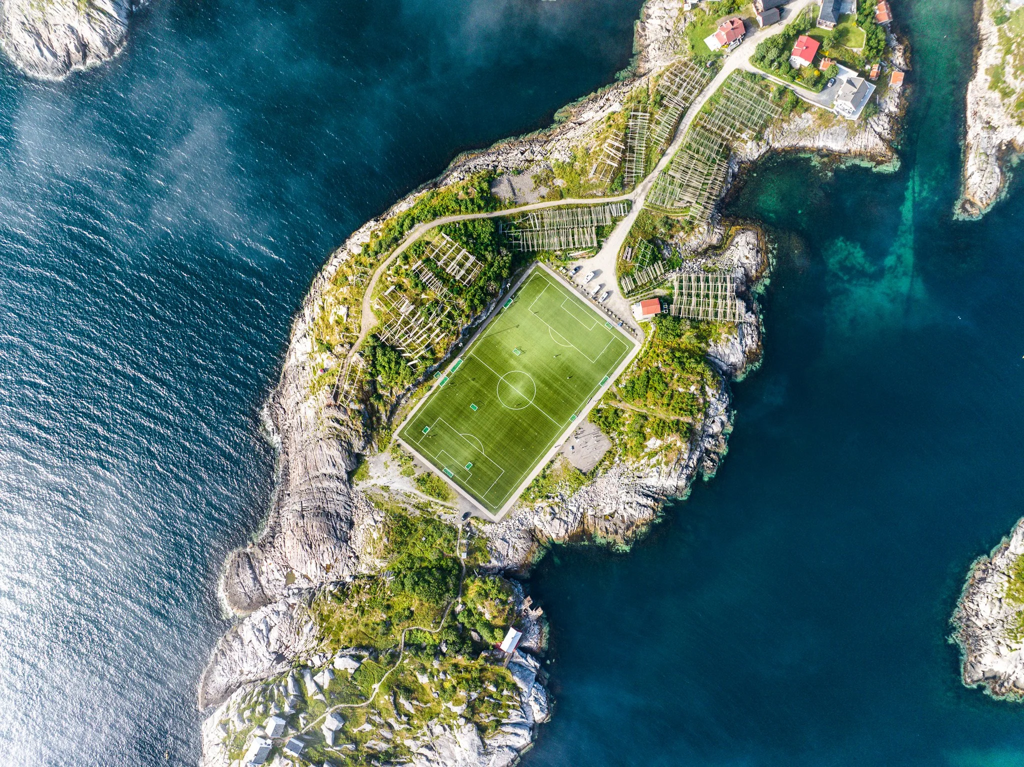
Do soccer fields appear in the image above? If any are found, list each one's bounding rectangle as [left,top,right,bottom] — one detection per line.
[398,267,636,515]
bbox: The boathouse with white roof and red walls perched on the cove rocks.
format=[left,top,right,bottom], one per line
[496,626,522,654]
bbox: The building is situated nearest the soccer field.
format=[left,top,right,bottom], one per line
[631,298,661,322]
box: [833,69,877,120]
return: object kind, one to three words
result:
house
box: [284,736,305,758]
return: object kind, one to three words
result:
shed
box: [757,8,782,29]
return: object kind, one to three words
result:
building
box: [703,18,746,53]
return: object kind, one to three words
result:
house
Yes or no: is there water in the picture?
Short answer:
Yes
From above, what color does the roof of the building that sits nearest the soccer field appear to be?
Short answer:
red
